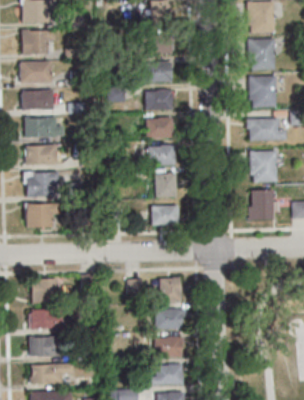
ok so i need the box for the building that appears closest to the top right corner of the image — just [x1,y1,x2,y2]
[247,0,276,33]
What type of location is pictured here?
residential area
